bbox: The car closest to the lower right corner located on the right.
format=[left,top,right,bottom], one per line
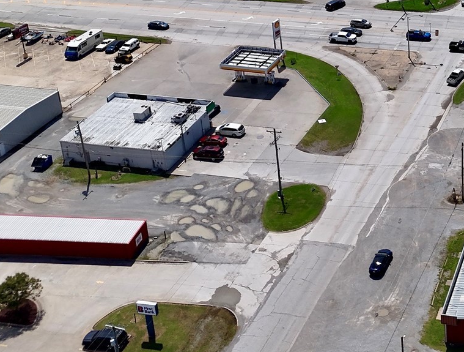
[368,247,393,275]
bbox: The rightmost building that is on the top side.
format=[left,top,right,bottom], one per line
[56,92,211,174]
